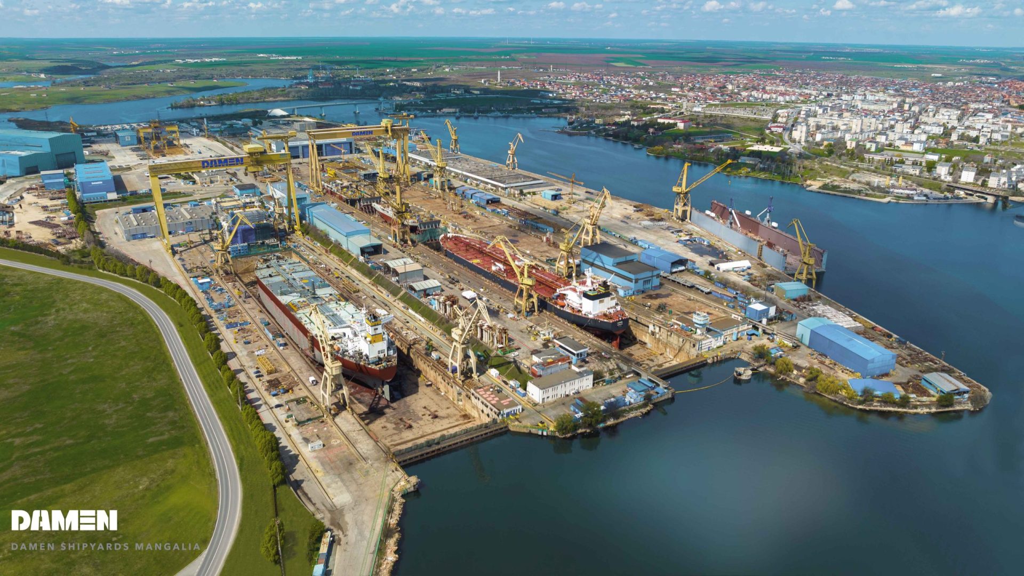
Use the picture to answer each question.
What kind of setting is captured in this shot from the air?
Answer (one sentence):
What you see here is a port.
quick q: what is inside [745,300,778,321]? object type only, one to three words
shed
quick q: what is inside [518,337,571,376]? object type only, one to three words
building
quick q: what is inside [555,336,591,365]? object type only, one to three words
building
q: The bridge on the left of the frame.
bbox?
[263,96,500,117]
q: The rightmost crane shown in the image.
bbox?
[785,218,823,283]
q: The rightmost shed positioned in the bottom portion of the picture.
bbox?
[906,354,974,400]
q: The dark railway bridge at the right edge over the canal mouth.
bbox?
[926,177,1024,203]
